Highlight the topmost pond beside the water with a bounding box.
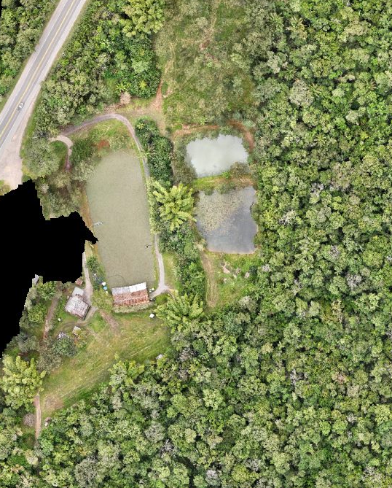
[186,133,248,176]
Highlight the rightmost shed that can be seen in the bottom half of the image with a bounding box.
[113,283,149,307]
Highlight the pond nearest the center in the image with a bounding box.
[196,187,256,252]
